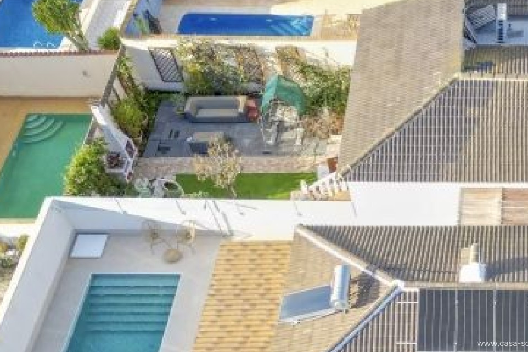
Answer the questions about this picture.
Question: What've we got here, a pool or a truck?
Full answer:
I can see a pool in this picture.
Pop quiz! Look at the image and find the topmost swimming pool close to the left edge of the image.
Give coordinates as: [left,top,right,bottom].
[0,0,90,51]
